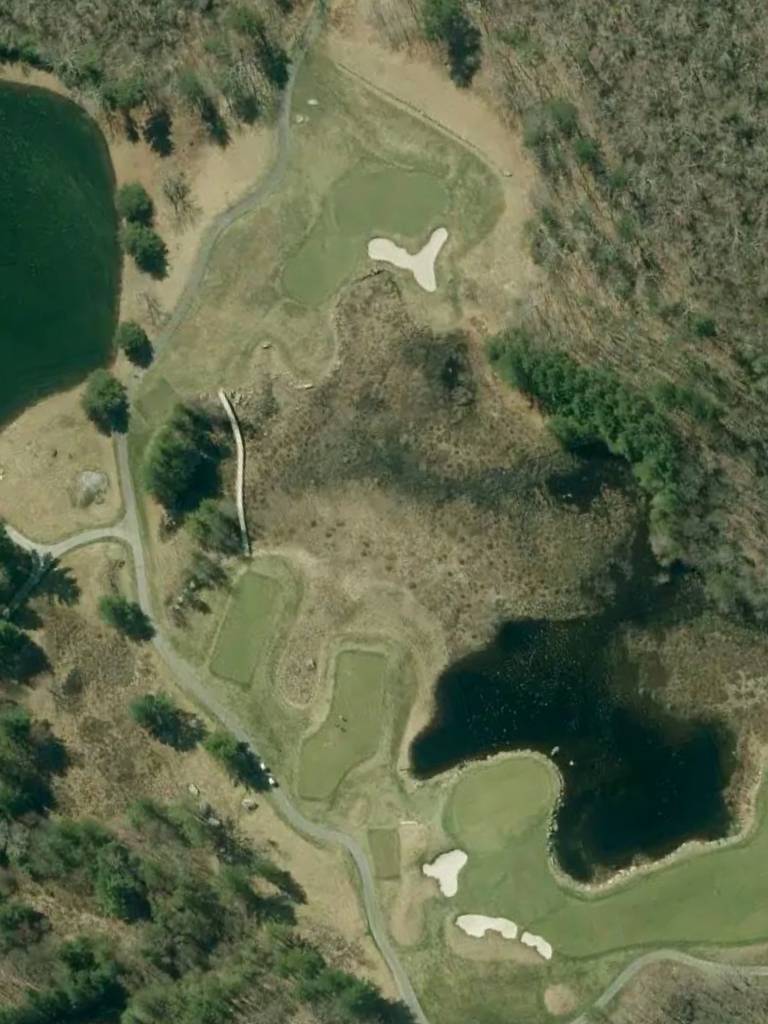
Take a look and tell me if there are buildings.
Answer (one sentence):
No, I can see no building in this picture.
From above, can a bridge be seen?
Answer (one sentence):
No, I find no bridge anywhere in the image.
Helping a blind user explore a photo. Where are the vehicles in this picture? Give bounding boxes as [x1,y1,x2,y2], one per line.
[259,760,267,770]
[267,775,276,785]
